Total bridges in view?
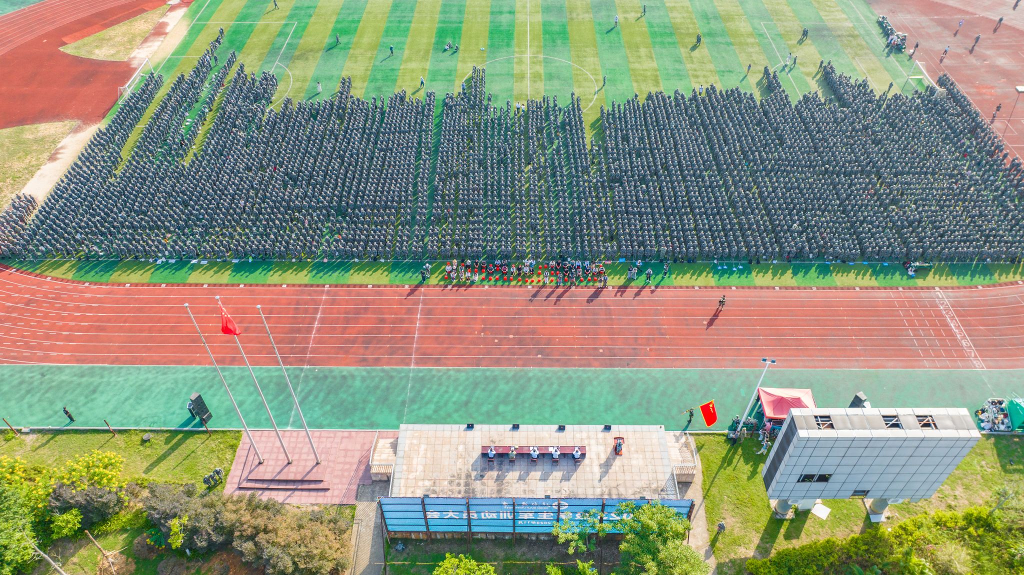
none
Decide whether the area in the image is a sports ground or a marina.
sports ground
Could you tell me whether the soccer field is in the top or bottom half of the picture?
top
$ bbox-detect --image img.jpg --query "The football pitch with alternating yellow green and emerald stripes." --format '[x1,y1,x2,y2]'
[0,0,1024,285]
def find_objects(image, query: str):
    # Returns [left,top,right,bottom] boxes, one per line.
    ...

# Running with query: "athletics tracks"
[0,0,1024,370]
